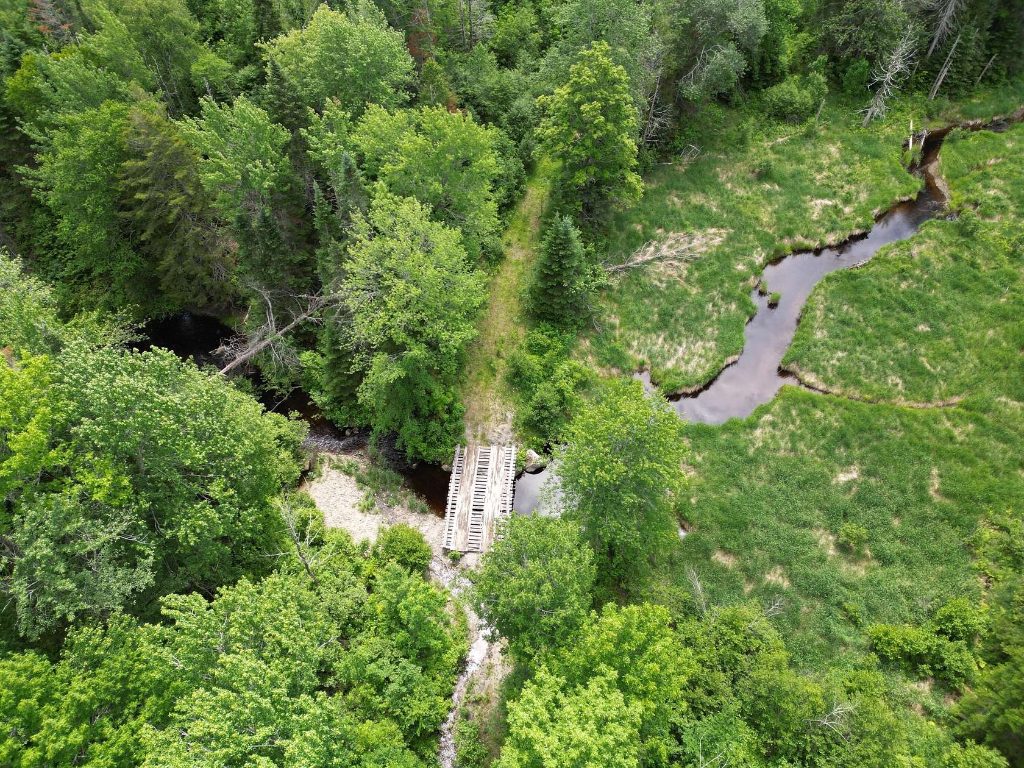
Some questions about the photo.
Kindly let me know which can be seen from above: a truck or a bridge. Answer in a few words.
bridge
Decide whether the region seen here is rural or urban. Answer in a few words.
rural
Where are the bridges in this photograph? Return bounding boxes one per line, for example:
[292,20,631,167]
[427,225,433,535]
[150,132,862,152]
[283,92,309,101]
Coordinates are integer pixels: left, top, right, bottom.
[439,443,518,559]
